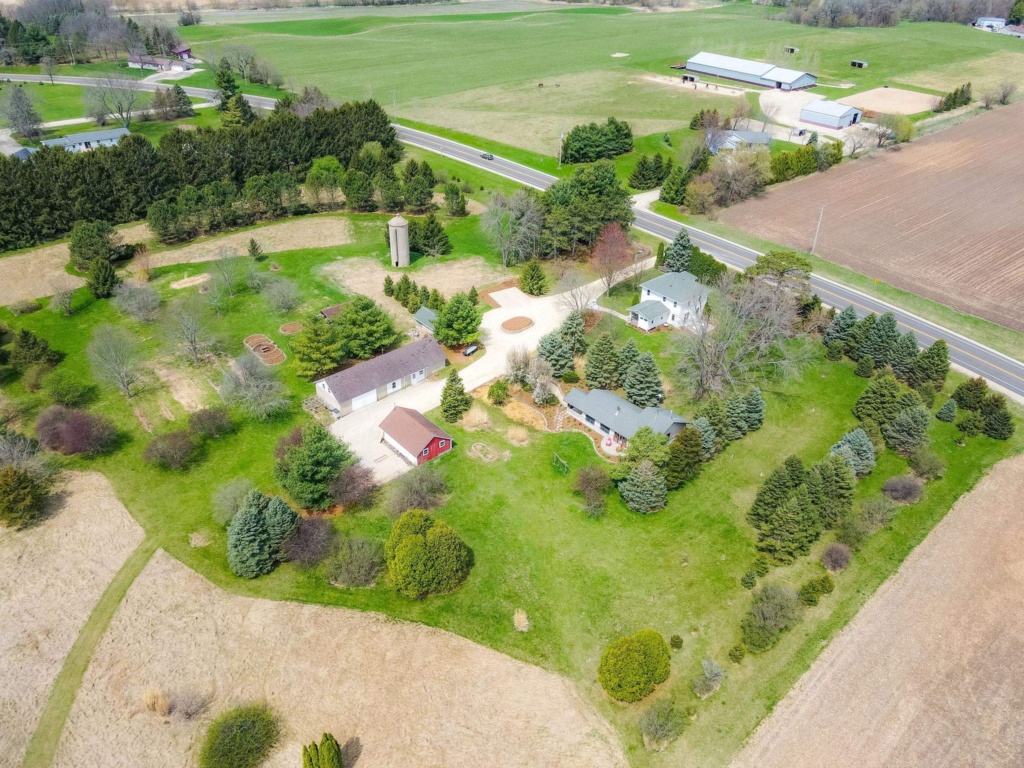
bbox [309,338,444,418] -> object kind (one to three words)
barn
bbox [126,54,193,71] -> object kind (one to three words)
house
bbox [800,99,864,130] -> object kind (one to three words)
shed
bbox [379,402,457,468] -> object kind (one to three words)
building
